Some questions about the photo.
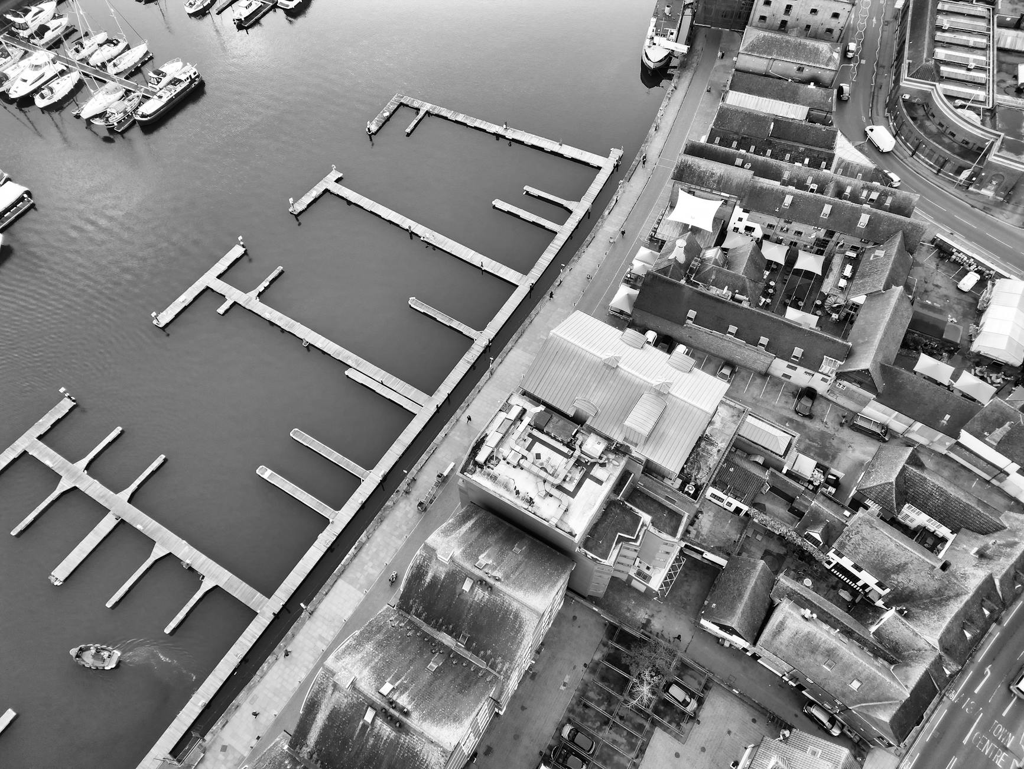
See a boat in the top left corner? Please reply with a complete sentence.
Yes, there is a boat in the top left corner.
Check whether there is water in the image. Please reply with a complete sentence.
Yes, water shows up in the scene.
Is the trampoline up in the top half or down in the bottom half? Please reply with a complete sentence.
You can find the trampoline in the bottom half.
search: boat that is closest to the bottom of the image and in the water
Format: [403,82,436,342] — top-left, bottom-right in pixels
[68,640,125,669]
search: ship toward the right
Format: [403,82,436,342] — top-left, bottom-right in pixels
[643,0,681,75]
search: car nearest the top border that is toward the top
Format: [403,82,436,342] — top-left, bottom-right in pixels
[844,45,857,60]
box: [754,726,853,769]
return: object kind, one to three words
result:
house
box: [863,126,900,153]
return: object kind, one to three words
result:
vehicle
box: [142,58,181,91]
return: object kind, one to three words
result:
boat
